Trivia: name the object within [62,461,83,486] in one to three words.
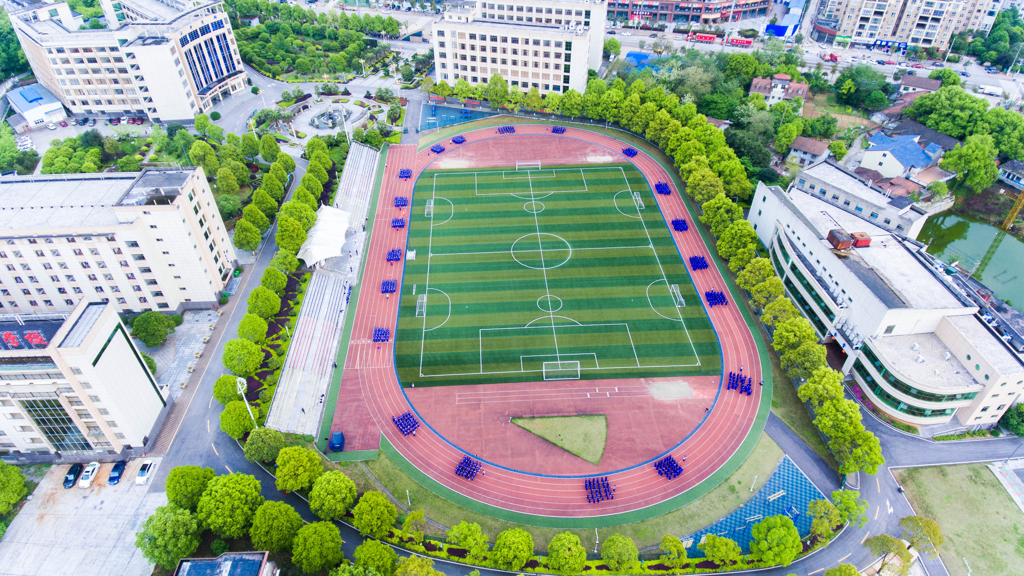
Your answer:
car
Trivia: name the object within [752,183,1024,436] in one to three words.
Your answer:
building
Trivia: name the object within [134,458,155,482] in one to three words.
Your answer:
car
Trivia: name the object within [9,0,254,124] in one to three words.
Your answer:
building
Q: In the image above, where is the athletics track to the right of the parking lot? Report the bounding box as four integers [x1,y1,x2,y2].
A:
[319,122,772,530]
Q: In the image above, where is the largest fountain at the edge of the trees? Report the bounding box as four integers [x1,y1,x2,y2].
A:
[308,106,354,129]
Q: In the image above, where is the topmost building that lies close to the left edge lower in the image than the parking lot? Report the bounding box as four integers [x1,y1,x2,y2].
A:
[0,166,244,322]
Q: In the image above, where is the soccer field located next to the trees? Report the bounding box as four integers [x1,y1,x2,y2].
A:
[398,163,719,389]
